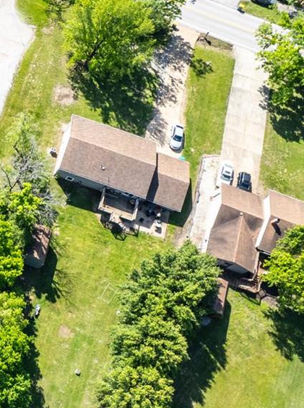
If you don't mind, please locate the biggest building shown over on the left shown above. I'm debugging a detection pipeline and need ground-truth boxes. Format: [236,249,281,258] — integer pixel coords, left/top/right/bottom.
[53,114,184,212]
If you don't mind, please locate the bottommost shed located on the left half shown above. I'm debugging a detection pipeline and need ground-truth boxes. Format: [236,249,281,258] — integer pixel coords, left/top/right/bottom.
[24,225,54,264]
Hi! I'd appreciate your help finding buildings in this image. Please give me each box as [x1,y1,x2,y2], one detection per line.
[199,277,229,315]
[201,184,304,268]
[53,114,184,212]
[24,225,54,264]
